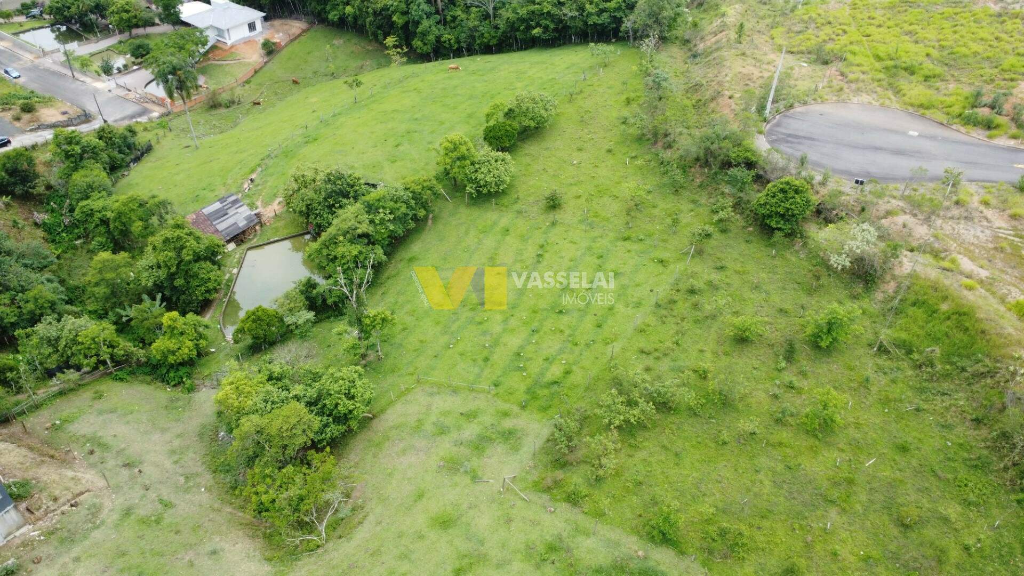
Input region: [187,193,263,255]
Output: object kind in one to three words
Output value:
barn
